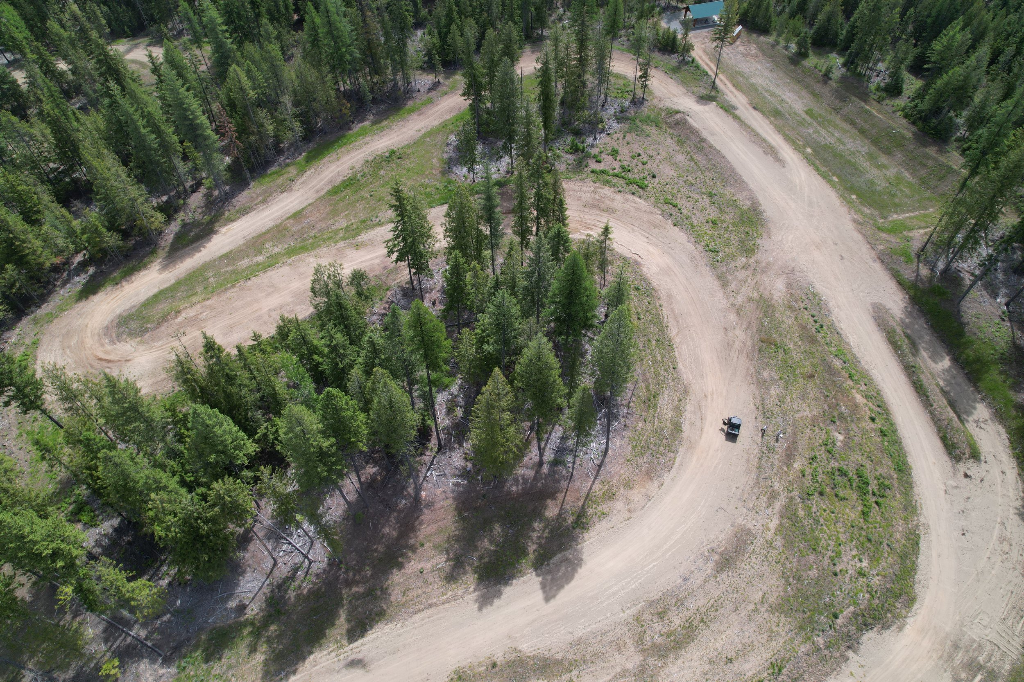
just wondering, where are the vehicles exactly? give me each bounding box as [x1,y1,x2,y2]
[722,415,741,435]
